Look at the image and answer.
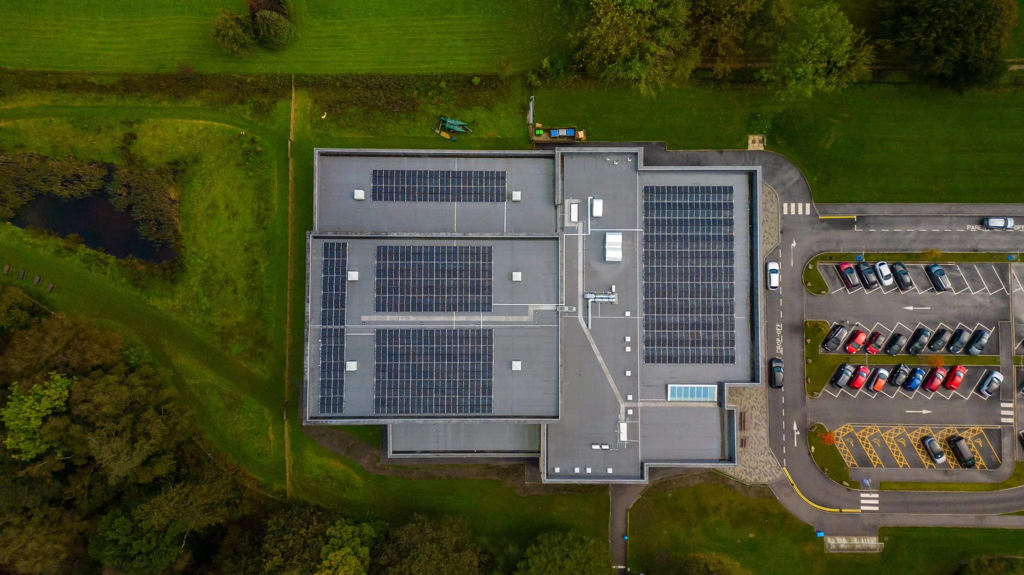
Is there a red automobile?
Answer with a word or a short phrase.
Yes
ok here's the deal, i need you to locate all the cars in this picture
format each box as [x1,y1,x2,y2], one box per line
[924,367,945,393]
[885,332,908,357]
[982,216,1013,229]
[845,330,868,354]
[874,261,894,287]
[849,365,870,390]
[948,437,972,466]
[892,263,914,290]
[769,358,785,389]
[921,436,943,464]
[944,365,965,391]
[980,370,1002,398]
[947,328,971,354]
[766,262,779,290]
[907,328,931,356]
[865,331,887,355]
[928,263,952,292]
[928,327,951,353]
[966,328,992,357]
[857,263,879,289]
[823,324,848,353]
[888,363,909,388]
[867,368,889,394]
[833,363,854,389]
[903,367,924,393]
[838,262,860,288]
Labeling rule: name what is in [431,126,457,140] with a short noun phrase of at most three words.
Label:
boat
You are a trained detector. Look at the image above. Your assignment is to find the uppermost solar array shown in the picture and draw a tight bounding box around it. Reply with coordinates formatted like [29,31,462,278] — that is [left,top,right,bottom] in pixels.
[371,169,507,202]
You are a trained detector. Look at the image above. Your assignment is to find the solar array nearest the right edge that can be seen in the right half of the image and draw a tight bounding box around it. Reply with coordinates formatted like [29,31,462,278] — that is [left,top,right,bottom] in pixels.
[643,185,736,364]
